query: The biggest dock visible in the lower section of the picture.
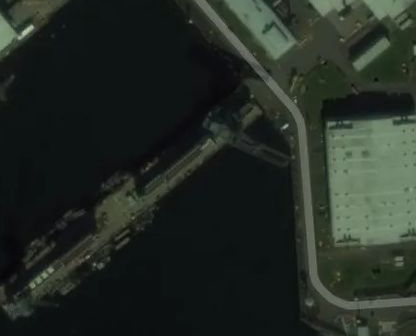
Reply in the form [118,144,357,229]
[10,135,241,317]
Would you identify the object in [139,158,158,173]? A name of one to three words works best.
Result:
boat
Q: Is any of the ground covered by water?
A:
Yes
